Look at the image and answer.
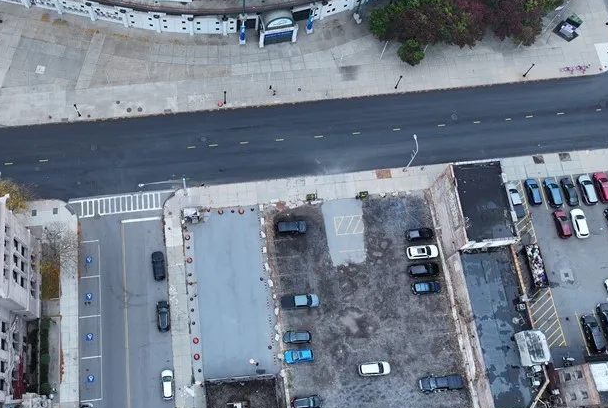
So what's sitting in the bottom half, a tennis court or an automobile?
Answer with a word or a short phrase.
automobile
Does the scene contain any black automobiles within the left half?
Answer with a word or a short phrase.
Yes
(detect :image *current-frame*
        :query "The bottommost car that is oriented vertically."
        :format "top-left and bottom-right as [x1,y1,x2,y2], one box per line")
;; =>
[158,367,175,403]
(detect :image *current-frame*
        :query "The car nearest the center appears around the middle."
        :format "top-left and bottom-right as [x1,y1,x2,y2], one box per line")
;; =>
[276,219,307,235]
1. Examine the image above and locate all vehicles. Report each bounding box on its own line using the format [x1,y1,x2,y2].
[575,176,599,205]
[591,173,608,202]
[542,179,565,208]
[552,210,574,237]
[504,182,531,218]
[592,301,608,338]
[276,219,307,235]
[282,347,316,365]
[281,292,319,310]
[150,251,166,282]
[280,328,313,346]
[601,277,608,294]
[567,209,592,239]
[557,178,580,207]
[411,279,440,295]
[523,178,545,207]
[408,260,440,278]
[357,360,391,378]
[404,225,436,242]
[158,367,175,403]
[154,300,171,333]
[579,315,607,350]
[420,374,462,392]
[290,392,324,408]
[406,243,438,260]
